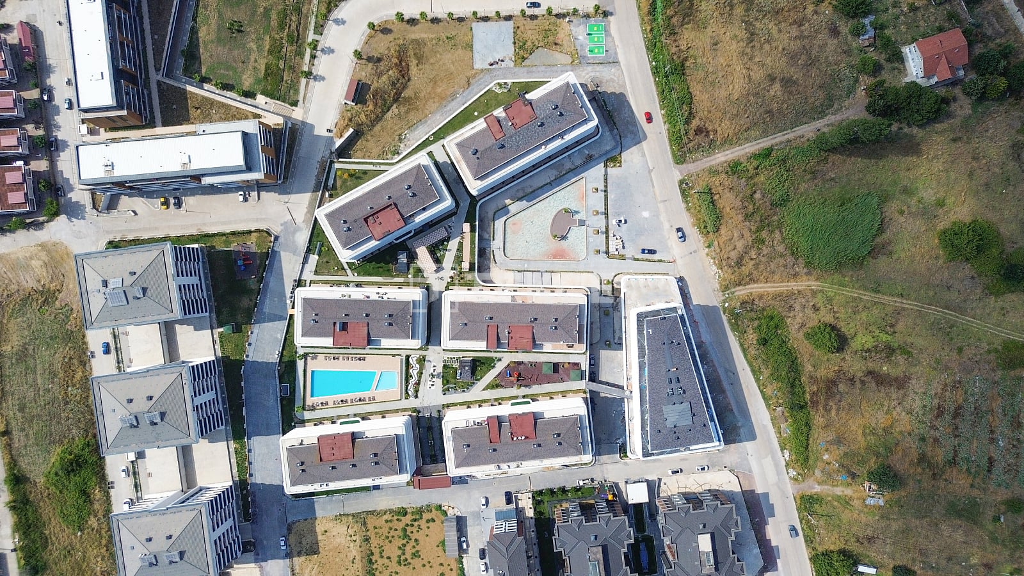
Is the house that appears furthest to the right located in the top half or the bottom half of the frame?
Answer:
top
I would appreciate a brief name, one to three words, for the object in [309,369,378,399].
swimming pool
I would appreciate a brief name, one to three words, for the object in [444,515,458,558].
shed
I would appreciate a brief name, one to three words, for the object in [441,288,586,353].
building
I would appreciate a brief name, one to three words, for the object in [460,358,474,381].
gazebo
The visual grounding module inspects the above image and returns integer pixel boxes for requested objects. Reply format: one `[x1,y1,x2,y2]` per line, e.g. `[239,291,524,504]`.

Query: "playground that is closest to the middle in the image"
[497,361,581,388]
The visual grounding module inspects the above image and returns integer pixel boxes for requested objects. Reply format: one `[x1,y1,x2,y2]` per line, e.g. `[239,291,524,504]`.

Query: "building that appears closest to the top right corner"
[897,28,968,88]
